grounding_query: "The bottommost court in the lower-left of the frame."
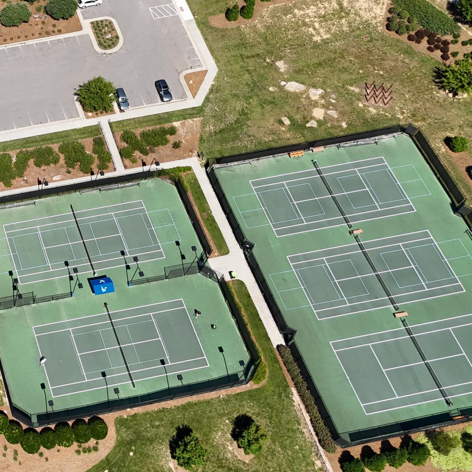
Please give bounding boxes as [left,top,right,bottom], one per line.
[0,273,251,415]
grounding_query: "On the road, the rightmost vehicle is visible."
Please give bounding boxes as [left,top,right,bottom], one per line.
[155,77,173,102]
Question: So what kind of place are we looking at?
sports ground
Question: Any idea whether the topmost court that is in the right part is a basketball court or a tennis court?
tennis court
